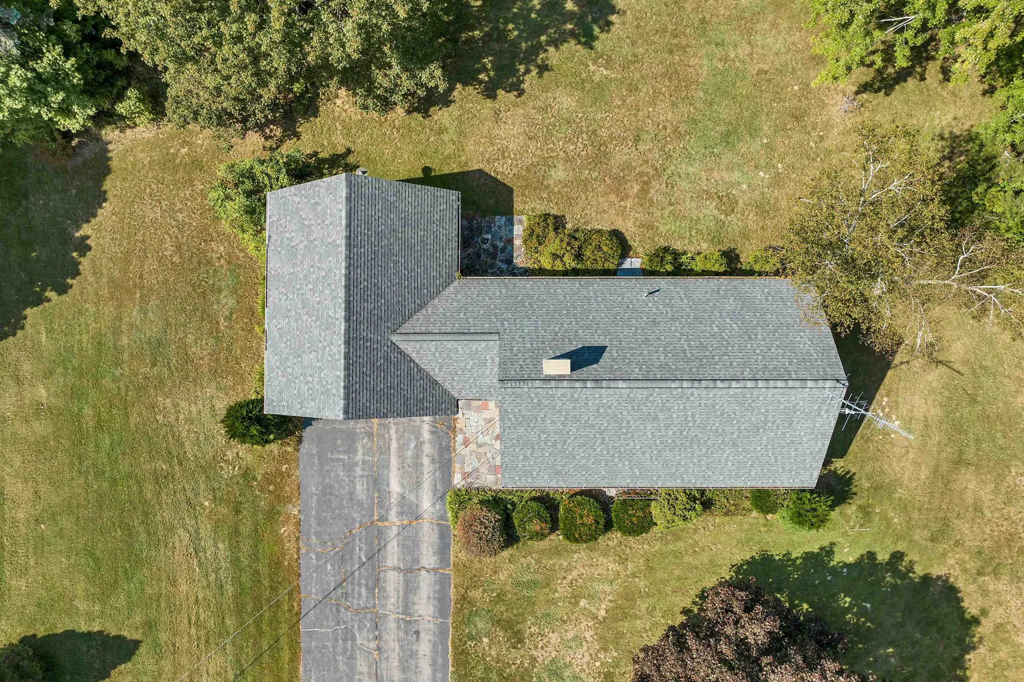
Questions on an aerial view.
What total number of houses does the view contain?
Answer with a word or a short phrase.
1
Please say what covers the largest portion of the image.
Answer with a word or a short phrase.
grass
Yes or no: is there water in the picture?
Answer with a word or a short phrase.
No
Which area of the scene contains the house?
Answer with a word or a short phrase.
center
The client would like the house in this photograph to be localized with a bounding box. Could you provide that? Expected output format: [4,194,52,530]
[263,172,848,491]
